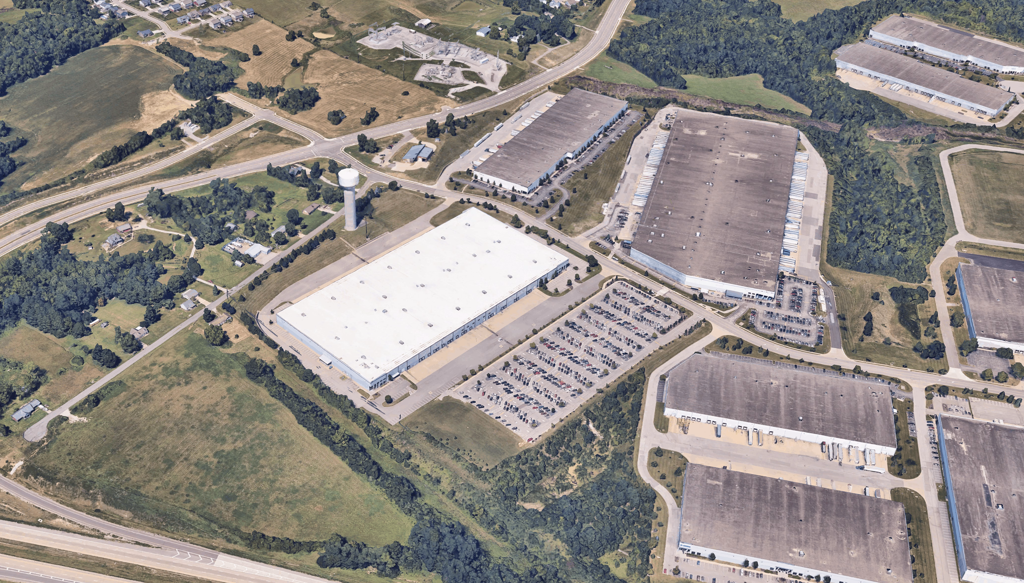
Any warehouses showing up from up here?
Yes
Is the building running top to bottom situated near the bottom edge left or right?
right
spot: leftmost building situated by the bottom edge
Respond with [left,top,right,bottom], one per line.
[675,462,914,583]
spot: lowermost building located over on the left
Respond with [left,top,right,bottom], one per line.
[3,399,48,425]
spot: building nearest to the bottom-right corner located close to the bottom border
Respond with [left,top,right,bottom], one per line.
[938,413,1024,583]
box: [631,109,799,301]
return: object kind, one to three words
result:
warehouse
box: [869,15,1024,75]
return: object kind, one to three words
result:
building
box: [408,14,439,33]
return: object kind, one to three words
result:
barn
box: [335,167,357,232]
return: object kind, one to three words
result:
water tower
